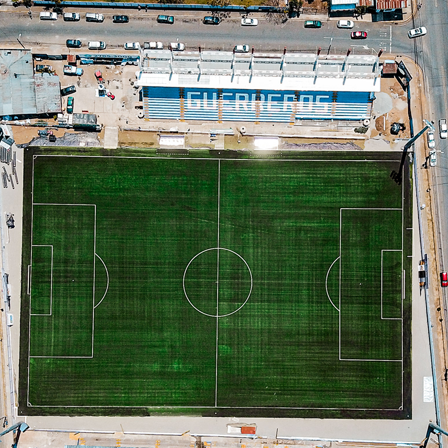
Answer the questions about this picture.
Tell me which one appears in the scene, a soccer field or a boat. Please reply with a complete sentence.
Looking from above, you can make out a soccer field.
